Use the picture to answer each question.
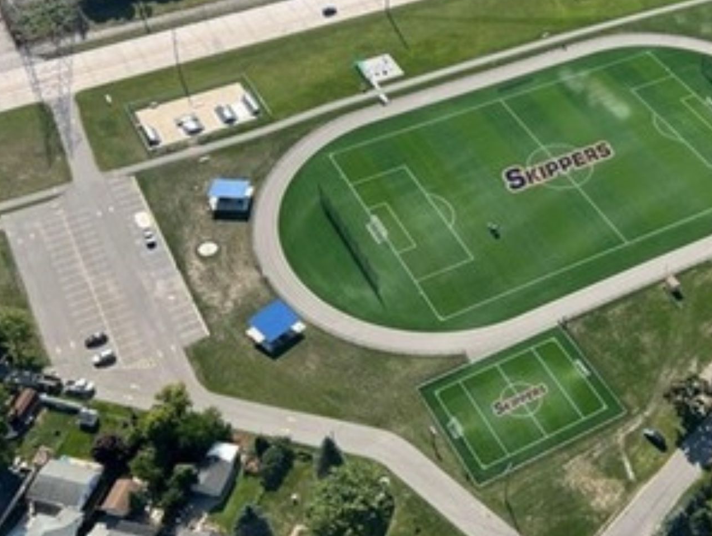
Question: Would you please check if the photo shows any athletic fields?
Yes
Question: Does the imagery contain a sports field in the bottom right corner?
Yes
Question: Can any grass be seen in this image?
Yes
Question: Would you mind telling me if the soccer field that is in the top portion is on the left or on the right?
right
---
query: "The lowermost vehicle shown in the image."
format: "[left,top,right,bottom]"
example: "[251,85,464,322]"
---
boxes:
[644,431,665,450]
